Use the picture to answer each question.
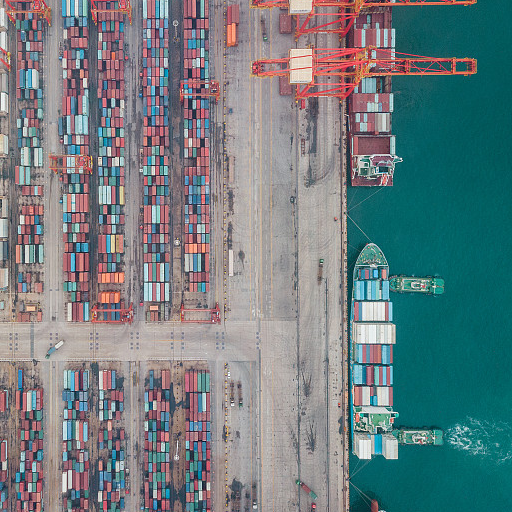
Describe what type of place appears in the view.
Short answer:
port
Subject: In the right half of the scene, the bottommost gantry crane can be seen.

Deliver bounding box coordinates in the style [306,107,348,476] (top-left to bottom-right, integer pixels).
[251,42,478,106]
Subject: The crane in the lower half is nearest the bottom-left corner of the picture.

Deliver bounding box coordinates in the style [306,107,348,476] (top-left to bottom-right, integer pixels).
[91,301,134,323]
